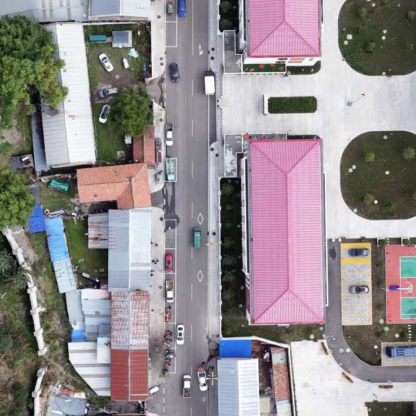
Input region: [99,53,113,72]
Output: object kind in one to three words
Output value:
vehicle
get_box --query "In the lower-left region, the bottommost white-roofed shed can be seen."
[68,341,110,396]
